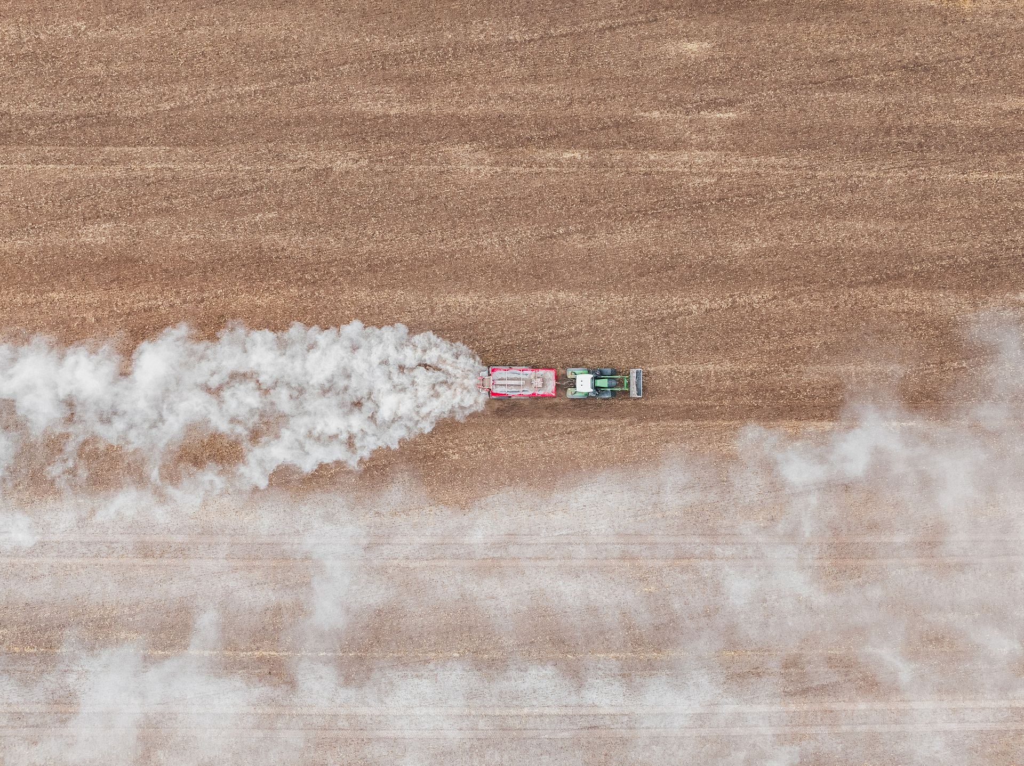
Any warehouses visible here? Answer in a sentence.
No, there's no warehouse here.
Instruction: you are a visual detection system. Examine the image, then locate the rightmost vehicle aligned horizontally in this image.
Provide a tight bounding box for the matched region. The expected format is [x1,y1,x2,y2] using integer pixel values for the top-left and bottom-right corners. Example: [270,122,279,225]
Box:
[566,368,641,398]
